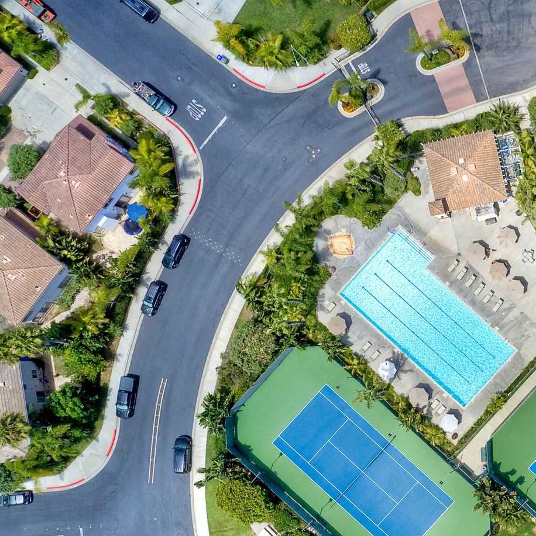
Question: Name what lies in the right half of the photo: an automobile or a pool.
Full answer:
You can see a pool in the right half of the photo.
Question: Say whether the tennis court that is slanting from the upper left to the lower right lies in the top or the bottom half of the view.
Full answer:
You can find the tennis court that is slanting from the upper left to the lower right in the bottom half.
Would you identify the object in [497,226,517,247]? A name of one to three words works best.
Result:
umbrella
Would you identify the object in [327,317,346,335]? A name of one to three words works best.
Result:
umbrella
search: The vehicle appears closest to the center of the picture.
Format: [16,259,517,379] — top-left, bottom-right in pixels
[167,233,194,271]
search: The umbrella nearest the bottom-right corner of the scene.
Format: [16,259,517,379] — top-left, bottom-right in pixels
[440,414,458,432]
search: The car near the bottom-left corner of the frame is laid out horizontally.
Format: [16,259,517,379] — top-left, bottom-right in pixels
[1,490,37,507]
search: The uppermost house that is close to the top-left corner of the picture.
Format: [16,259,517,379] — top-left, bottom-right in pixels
[0,52,35,108]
